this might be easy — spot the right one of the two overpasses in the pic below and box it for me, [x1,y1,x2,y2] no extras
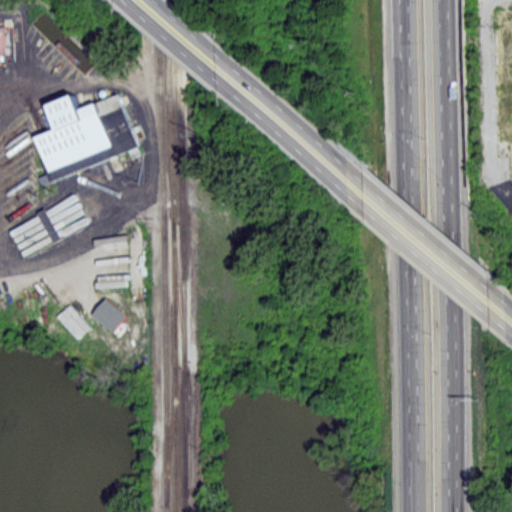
[362,166,489,325]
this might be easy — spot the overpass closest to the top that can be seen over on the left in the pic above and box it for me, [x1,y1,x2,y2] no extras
[124,0,214,90]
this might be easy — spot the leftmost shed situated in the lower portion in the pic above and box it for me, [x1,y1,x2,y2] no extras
[57,306,94,340]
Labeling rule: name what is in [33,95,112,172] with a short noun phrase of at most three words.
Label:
building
